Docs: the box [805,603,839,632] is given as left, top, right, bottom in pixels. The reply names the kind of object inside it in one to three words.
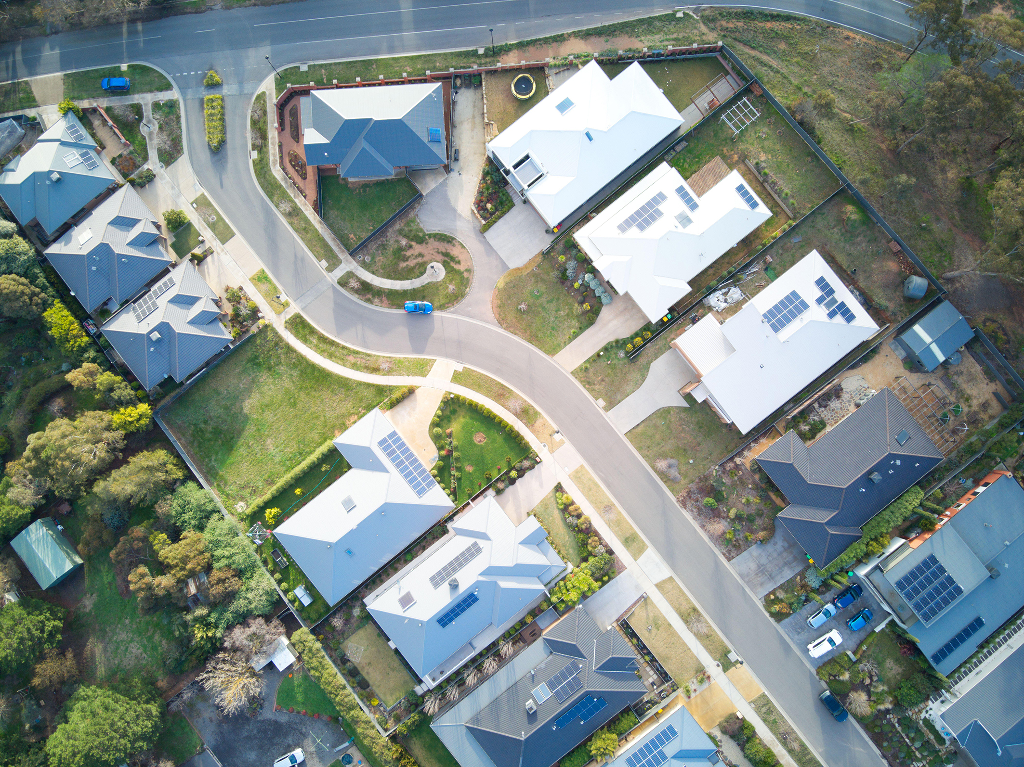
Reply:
car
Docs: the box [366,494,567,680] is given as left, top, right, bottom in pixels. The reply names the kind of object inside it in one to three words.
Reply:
house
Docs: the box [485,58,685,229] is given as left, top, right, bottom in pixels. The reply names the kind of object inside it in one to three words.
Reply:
house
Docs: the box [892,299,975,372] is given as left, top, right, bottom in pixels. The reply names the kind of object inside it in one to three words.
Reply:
shed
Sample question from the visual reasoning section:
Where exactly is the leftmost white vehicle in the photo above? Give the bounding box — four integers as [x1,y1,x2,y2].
[271,745,308,767]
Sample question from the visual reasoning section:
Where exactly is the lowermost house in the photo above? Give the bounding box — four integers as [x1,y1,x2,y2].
[598,703,719,767]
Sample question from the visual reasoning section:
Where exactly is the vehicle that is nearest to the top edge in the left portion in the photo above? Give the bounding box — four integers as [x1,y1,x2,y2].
[102,77,131,92]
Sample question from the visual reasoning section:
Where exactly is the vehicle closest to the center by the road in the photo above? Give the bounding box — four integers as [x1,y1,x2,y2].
[404,300,433,314]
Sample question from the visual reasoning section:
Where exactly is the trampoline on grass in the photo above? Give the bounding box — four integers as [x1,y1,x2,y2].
[512,72,536,97]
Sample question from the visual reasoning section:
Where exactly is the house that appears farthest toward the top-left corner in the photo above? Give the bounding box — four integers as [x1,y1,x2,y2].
[0,110,122,235]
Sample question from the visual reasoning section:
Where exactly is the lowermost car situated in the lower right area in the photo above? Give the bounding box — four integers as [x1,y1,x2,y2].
[817,688,850,725]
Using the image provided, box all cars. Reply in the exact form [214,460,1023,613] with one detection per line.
[844,606,875,634]
[817,688,850,725]
[805,603,839,632]
[807,629,845,661]
[102,77,131,92]
[404,300,433,314]
[271,745,308,767]
[832,583,866,612]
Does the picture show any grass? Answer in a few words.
Yes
